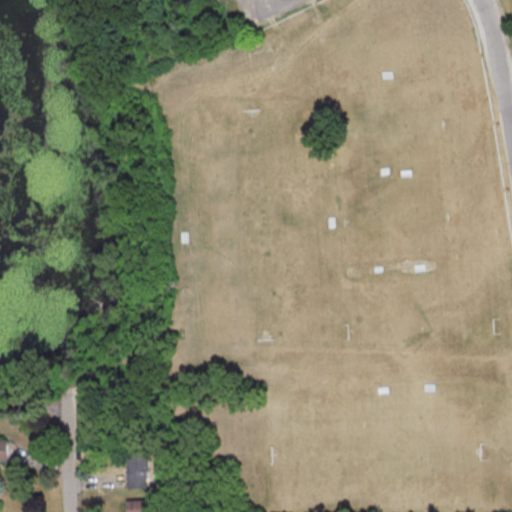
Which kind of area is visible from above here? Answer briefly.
sports ground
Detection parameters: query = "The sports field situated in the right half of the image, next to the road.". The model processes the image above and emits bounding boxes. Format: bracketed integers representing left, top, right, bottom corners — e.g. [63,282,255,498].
[148,0,512,512]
